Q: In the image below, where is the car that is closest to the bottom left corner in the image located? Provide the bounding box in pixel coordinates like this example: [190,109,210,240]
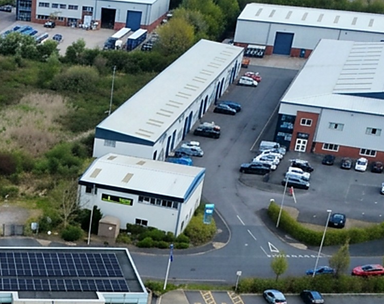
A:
[171,154,195,166]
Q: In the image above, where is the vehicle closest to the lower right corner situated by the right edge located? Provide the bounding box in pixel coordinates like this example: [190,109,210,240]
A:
[349,264,384,278]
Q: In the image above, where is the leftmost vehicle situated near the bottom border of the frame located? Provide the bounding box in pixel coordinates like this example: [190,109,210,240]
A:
[264,291,286,304]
